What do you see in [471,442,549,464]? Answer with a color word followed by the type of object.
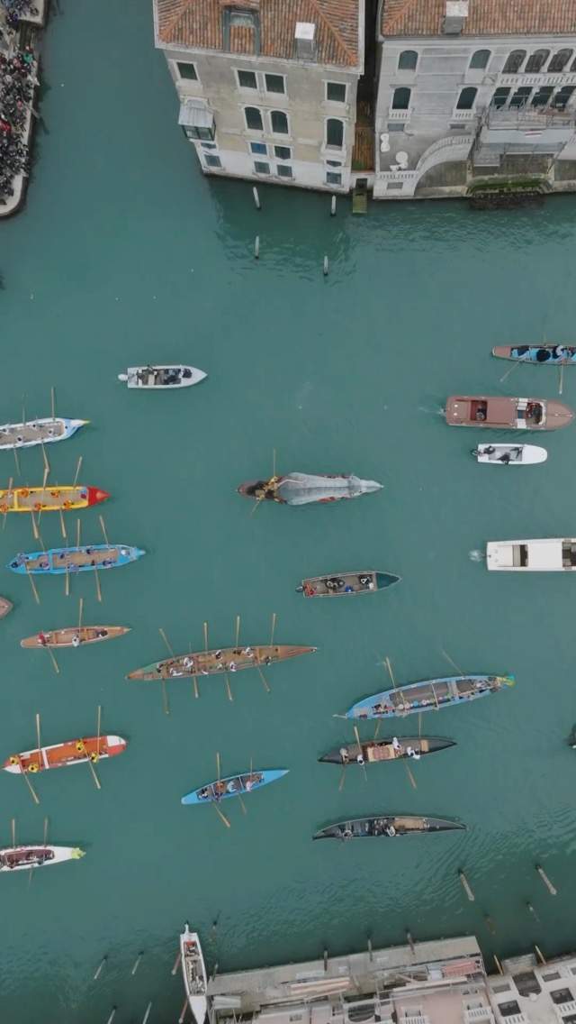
white boat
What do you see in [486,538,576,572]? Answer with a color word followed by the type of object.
white boat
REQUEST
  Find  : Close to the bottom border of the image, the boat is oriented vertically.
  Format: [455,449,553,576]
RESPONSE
[178,924,208,1024]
